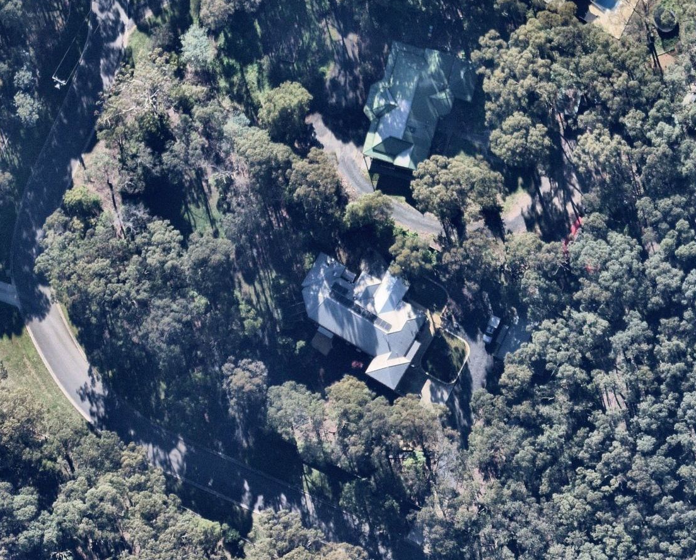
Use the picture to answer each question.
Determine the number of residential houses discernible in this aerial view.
two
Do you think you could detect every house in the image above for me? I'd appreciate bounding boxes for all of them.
[363,40,476,175]
[301,252,427,392]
